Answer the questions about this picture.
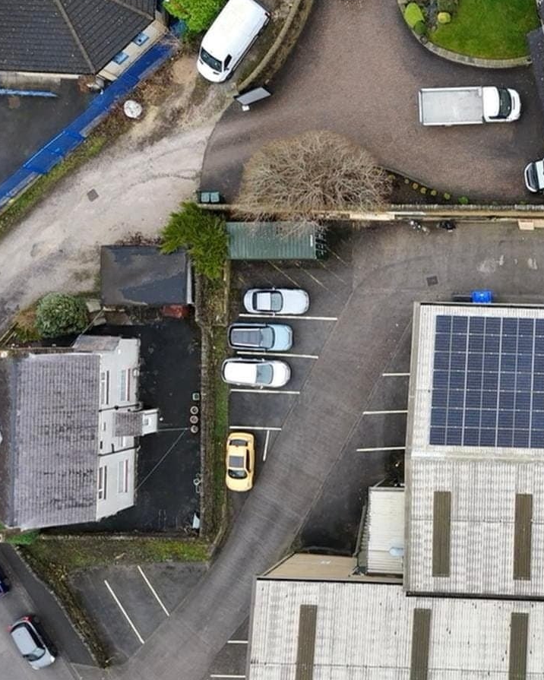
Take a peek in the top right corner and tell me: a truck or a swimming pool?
truck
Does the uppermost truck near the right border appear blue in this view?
No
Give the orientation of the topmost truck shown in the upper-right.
horizontally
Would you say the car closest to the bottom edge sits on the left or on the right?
left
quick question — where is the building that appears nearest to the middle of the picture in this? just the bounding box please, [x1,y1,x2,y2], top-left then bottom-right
[101,244,209,307]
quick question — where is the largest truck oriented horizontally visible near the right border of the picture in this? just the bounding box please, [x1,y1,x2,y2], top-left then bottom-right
[418,85,519,127]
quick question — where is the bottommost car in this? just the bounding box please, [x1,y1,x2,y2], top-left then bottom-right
[6,611,59,671]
